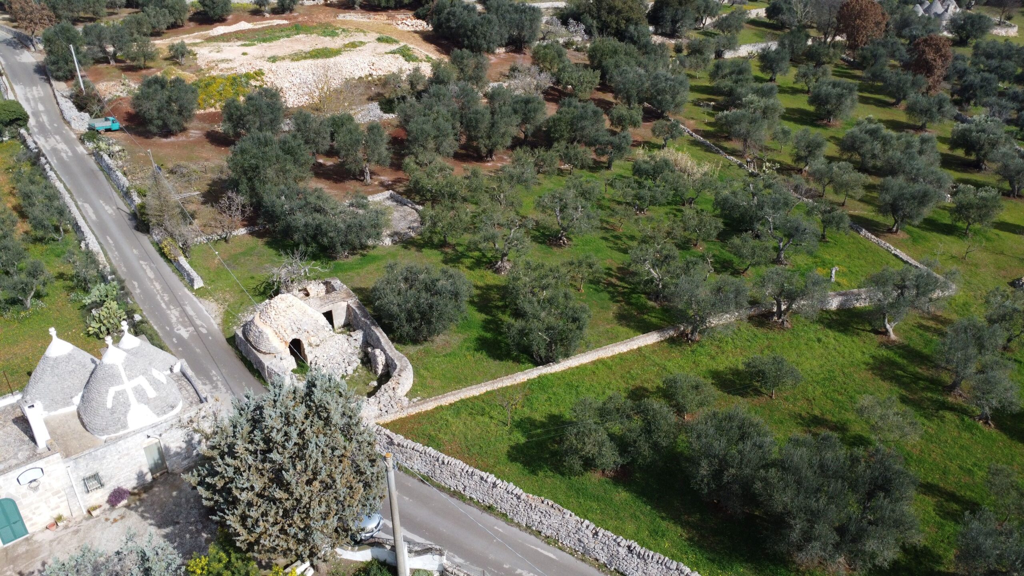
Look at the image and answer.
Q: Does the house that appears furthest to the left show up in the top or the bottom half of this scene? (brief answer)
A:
bottom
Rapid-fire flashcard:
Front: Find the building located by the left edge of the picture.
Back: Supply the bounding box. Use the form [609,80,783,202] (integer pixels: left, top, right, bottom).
[0,317,223,550]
